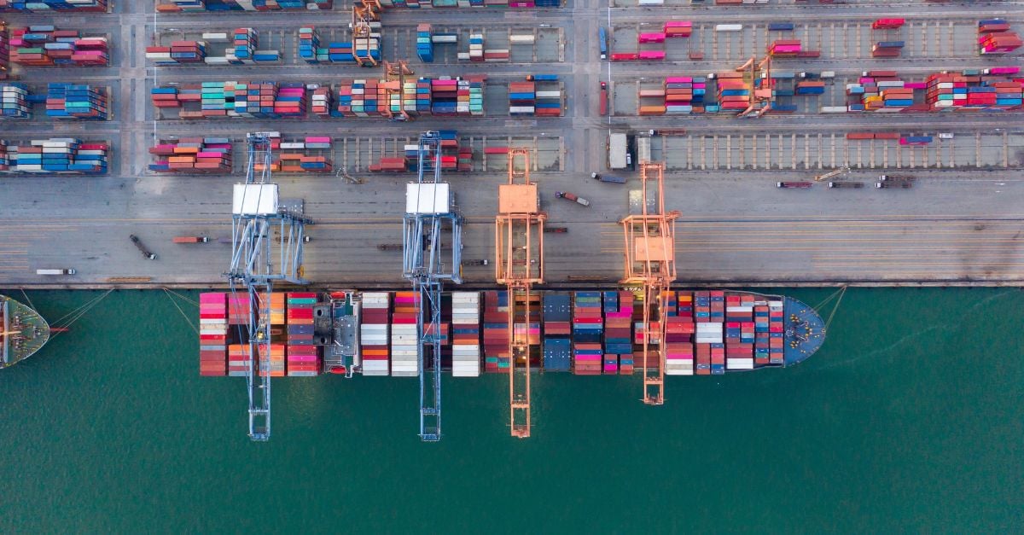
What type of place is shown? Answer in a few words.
port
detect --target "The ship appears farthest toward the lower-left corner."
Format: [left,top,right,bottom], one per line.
[0,295,67,367]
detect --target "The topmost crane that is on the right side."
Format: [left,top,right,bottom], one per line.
[737,57,770,118]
